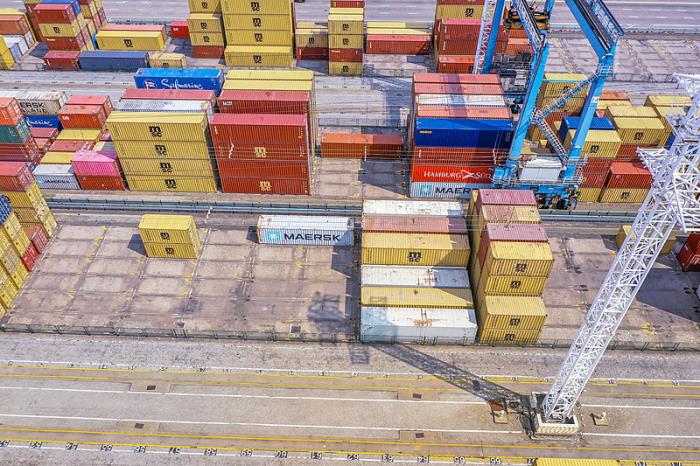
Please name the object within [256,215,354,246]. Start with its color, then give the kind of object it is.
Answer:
white shipping container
